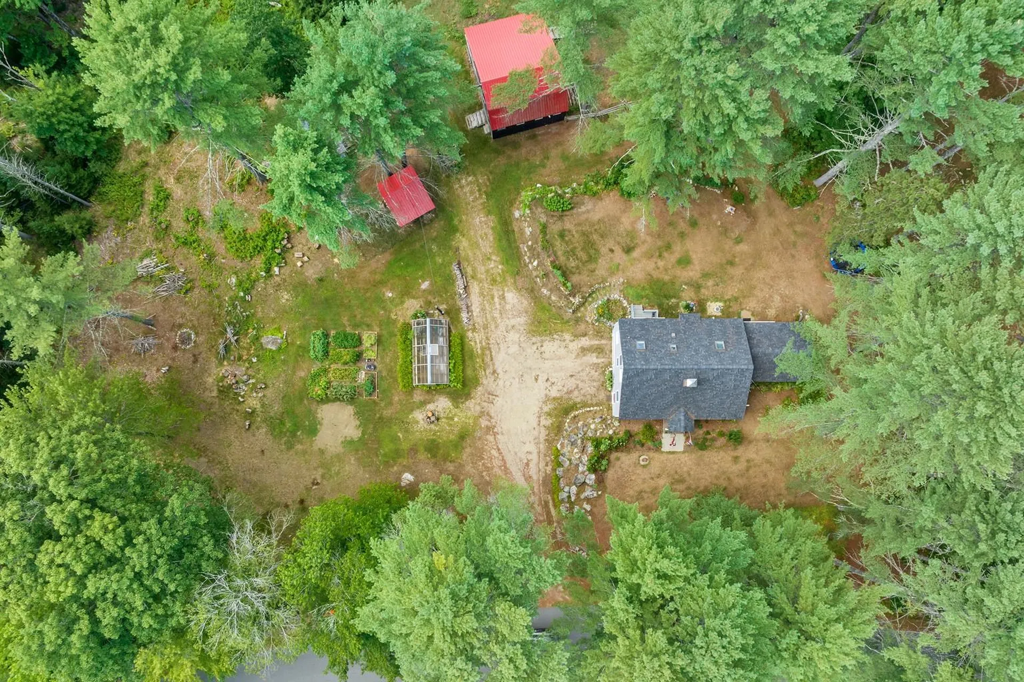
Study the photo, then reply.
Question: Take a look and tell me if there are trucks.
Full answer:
No, I can't see a single truck in this photo.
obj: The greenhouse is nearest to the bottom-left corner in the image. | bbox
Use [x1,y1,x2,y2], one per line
[412,317,451,386]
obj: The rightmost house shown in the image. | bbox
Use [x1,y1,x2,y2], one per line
[613,305,819,434]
